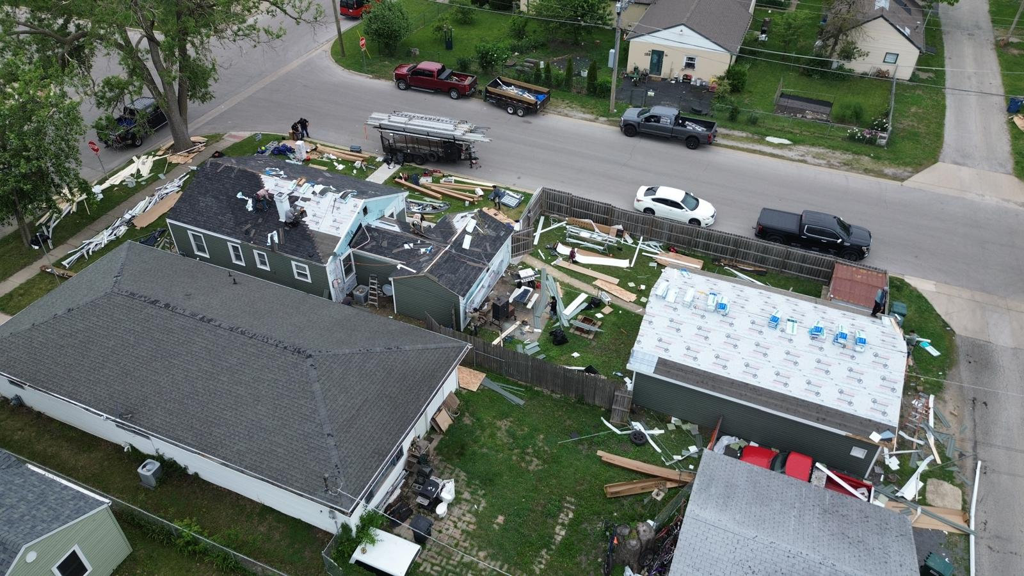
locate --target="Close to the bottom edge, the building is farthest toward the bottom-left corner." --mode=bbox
[0,449,130,576]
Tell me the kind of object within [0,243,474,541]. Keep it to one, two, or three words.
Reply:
house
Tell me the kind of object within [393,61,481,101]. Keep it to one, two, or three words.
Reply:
truck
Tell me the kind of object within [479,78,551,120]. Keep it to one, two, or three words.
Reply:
trailer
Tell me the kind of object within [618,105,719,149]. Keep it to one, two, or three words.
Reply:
truck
